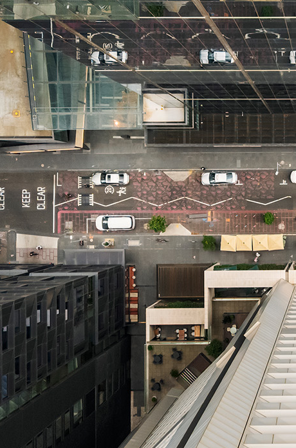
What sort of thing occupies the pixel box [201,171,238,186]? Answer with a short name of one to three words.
car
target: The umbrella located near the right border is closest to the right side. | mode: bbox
[268,234,283,250]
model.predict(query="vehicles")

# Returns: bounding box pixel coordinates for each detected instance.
[201,171,238,186]
[290,169,296,184]
[91,169,129,187]
[96,214,135,232]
